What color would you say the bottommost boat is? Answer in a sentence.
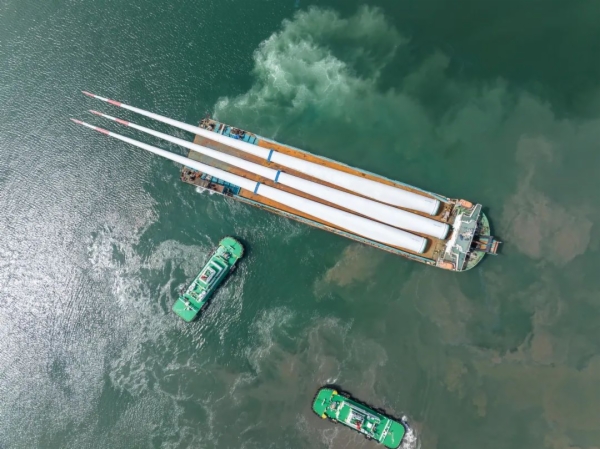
In this view, the bottommost boat is green.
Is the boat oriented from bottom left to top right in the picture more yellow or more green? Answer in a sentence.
From above, the boat oriented from bottom left to top right appears green.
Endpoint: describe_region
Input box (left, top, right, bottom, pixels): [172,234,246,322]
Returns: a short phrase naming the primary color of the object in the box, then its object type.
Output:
green boat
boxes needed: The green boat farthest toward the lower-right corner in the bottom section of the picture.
[311,385,405,449]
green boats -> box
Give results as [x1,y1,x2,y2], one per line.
[172,234,246,322]
[311,385,405,449]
